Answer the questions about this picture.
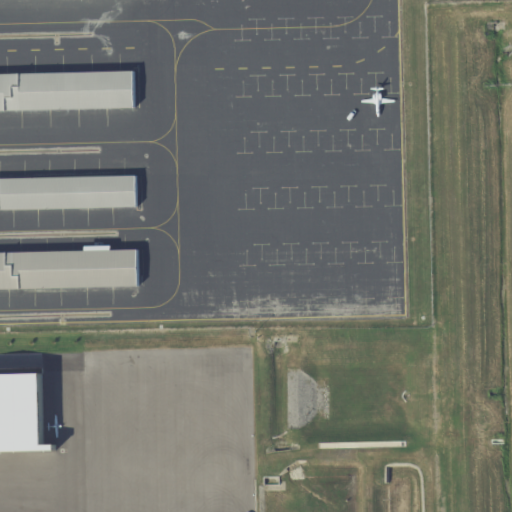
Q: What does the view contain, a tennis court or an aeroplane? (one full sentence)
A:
Visible in the photo is an aeroplane.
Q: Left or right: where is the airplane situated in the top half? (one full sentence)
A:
The airplane situated in the top half sits on the right side.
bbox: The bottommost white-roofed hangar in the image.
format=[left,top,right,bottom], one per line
[0,368,57,452]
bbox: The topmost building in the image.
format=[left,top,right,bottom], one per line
[0,70,137,110]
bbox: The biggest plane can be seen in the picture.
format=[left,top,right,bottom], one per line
[362,88,395,118]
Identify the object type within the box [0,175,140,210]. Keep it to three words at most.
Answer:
hangar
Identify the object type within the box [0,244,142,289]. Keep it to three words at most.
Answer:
hangar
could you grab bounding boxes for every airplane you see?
[49,416,63,438]
[362,88,395,118]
